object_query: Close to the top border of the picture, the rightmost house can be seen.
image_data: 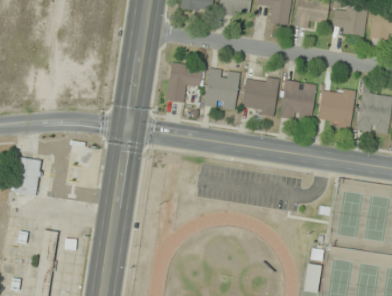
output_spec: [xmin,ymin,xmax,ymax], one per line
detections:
[370,14,392,44]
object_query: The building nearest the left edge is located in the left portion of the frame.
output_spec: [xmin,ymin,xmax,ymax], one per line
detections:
[16,157,42,196]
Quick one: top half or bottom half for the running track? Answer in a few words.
bottom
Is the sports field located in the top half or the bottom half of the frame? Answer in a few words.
bottom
